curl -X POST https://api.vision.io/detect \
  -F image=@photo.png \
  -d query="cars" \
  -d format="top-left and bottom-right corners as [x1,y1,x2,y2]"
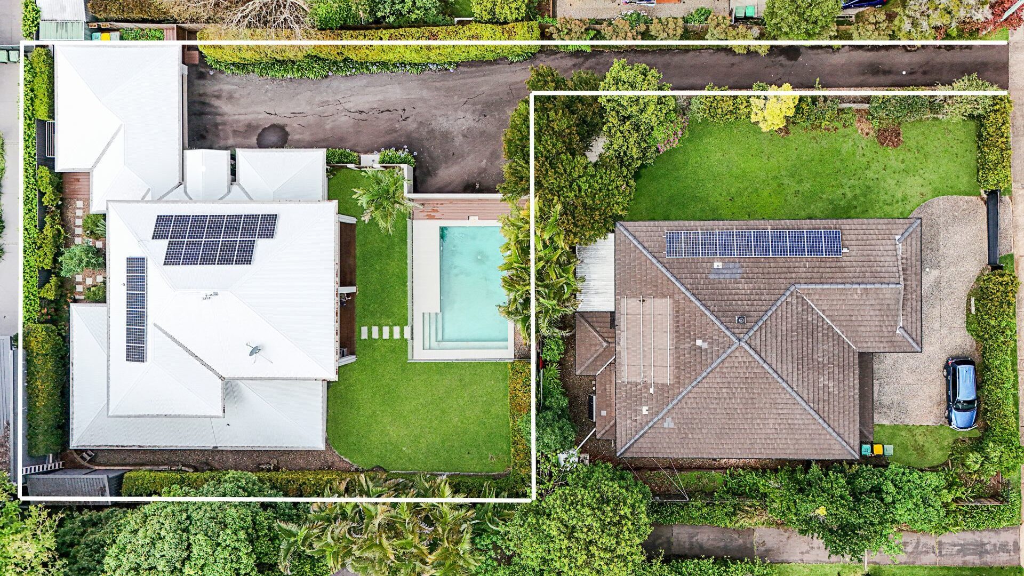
[840,0,894,15]
[941,359,980,434]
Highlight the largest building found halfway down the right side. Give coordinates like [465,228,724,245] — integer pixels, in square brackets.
[574,216,923,461]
